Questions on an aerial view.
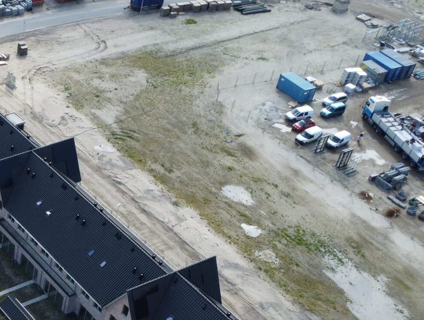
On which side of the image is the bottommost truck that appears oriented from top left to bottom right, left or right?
right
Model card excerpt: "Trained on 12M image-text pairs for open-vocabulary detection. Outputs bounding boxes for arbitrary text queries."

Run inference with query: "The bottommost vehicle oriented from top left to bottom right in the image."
[364,97,424,168]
